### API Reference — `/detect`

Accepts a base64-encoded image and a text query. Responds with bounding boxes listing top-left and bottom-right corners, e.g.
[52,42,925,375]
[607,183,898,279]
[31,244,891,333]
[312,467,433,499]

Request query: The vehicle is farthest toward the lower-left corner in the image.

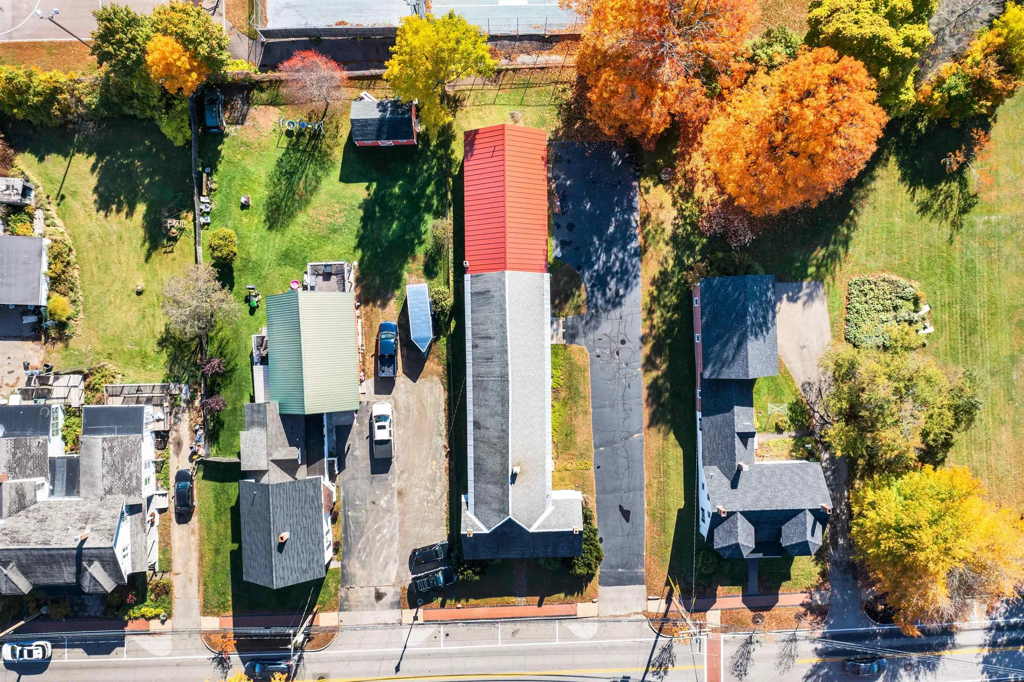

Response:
[2,638,54,664]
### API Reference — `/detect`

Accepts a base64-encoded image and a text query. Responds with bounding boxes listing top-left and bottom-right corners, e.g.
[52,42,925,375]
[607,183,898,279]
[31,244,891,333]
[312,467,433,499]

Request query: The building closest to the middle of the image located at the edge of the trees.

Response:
[461,123,584,559]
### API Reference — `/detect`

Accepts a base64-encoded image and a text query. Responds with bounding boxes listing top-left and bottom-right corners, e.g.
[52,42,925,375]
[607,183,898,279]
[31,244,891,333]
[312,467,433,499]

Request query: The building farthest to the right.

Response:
[695,274,837,559]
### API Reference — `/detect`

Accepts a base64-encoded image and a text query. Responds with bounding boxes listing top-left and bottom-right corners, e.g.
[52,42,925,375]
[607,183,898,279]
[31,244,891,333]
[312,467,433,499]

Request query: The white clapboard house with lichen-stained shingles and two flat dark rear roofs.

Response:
[0,403,176,595]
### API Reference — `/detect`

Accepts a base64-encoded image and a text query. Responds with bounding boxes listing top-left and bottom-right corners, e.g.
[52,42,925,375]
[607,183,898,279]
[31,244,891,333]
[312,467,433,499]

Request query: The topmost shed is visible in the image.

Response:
[350,100,416,147]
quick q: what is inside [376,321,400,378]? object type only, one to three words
truck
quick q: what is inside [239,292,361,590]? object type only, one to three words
building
